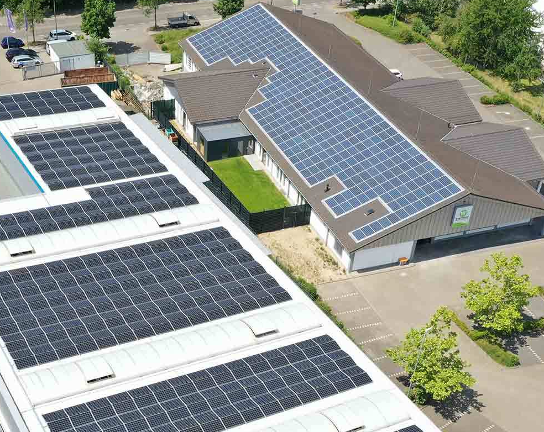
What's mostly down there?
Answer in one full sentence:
The bulk of the photo consists of buildings.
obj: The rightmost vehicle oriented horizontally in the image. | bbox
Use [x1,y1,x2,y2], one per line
[169,13,199,28]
